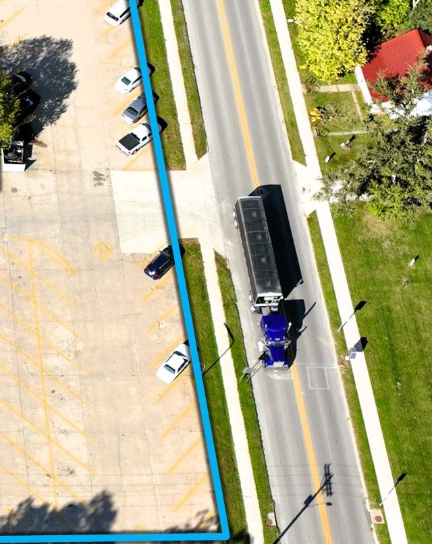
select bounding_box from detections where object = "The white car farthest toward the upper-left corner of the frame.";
[103,0,139,27]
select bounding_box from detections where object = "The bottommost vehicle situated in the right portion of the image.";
[248,298,294,371]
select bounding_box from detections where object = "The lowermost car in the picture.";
[153,341,196,384]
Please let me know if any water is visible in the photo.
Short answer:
No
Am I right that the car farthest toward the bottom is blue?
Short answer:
No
